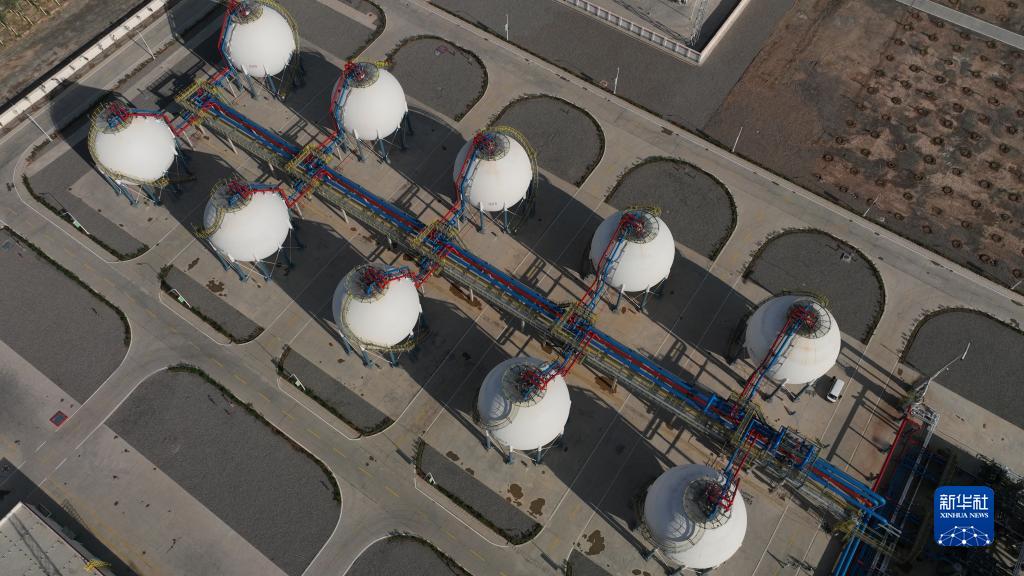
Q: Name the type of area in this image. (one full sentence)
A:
What you see here is an industrial area.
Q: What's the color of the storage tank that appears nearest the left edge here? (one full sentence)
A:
From above, the storage tank that appears nearest the left edge appears white.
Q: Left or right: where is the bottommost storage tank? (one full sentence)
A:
The bottommost storage tank sits on the right side.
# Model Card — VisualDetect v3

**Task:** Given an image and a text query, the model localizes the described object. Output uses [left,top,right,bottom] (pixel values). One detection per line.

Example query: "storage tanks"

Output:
[470,345,579,465]
[442,125,538,232]
[86,102,198,205]
[211,0,308,98]
[726,287,840,409]
[331,257,436,367]
[195,177,310,281]
[320,58,414,161]
[580,202,676,313]
[632,446,747,576]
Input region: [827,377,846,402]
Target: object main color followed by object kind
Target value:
white vehicle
